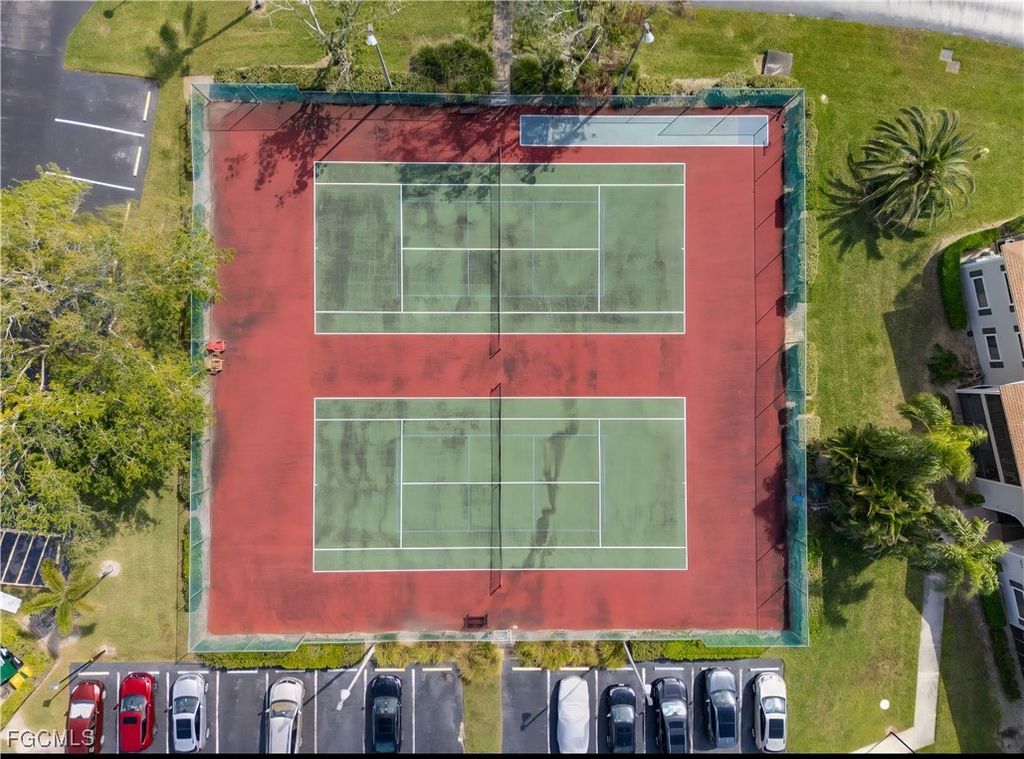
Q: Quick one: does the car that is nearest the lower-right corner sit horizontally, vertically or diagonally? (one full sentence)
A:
The car that is nearest the lower-right corner is laid out vertically.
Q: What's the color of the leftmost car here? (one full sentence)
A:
The leftmost car looks red in the image.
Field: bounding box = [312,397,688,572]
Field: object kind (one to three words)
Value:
tennis court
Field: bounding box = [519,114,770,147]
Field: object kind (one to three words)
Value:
sports court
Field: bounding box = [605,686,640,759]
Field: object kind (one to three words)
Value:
car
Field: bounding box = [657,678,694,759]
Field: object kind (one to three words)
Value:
car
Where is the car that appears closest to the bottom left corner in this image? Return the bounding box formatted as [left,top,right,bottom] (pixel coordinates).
[63,680,105,759]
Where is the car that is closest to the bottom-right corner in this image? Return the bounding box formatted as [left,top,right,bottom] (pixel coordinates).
[753,671,793,751]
